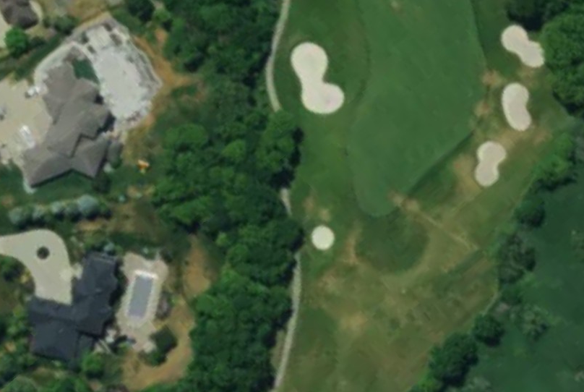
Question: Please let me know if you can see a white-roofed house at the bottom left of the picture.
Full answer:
No, at the bottom left of the picture there is no white-roofed house.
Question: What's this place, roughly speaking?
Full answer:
It's a golf course.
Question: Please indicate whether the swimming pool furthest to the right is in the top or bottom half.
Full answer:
The swimming pool furthest to the right is in the bottom half of the image.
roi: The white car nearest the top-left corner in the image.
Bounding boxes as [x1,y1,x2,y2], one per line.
[26,84,44,96]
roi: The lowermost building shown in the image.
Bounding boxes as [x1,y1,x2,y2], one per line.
[25,253,120,364]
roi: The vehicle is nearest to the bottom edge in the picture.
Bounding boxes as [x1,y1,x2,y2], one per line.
[18,125,35,149]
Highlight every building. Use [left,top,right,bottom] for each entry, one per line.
[25,253,120,364]
[0,0,42,32]
[17,60,117,193]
